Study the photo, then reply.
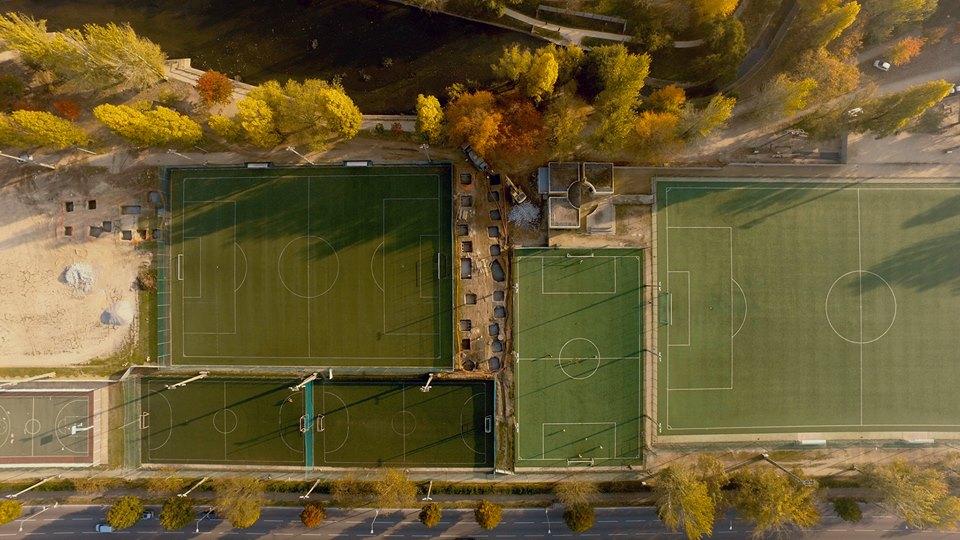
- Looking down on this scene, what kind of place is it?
sports ground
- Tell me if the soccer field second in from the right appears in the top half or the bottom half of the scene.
bottom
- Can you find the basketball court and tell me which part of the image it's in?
bottom left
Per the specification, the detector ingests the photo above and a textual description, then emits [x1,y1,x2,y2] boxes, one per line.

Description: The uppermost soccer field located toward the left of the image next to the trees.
[171,165,454,368]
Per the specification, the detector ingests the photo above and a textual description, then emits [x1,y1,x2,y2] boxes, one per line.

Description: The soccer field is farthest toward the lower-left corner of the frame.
[141,377,312,467]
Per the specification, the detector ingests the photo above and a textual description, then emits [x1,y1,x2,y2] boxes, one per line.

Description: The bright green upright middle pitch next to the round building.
[515,249,643,469]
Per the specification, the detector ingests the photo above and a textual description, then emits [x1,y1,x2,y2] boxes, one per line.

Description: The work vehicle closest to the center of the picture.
[502,172,531,208]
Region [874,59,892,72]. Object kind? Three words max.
vehicle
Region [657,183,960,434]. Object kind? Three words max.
soccer field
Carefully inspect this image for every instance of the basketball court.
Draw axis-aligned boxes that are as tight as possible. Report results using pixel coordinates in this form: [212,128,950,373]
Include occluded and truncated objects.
[0,390,94,465]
